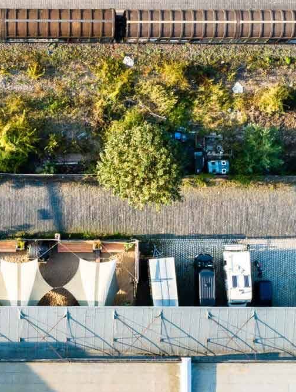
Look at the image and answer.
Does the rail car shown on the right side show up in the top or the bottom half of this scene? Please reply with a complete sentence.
It is in the top half that the rail car shown on the right side appears.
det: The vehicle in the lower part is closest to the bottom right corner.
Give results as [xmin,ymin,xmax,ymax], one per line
[252,282,273,307]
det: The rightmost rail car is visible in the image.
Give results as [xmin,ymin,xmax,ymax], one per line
[117,8,296,45]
